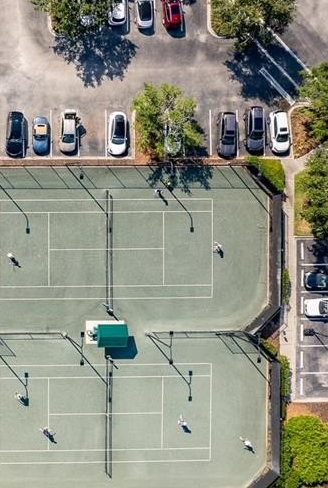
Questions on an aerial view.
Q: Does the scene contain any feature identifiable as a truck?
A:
No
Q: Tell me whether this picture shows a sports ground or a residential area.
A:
sports ground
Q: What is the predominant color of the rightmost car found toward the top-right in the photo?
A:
white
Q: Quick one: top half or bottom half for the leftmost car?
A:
top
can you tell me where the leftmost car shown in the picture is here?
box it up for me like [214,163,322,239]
[5,112,25,157]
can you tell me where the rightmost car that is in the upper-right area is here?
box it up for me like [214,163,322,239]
[266,112,291,154]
